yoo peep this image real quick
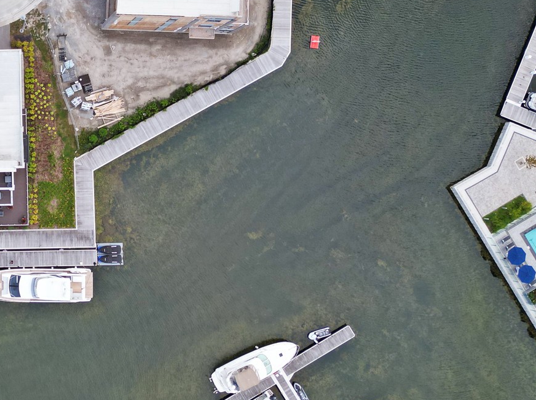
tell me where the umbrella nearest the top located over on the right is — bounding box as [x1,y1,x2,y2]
[504,247,526,265]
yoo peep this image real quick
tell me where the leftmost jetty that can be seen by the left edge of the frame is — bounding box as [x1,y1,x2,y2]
[0,249,98,267]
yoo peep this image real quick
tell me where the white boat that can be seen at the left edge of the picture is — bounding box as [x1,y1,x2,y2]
[0,265,92,301]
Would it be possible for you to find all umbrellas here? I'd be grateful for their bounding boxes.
[504,247,526,265]
[515,265,535,284]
